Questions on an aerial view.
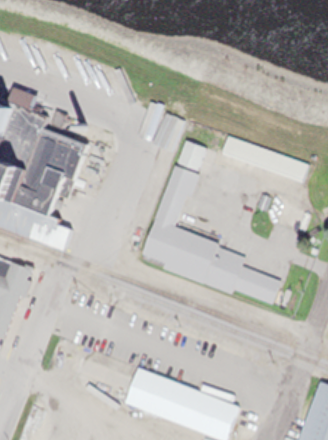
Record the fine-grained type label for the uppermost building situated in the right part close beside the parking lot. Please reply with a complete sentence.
I'd say the uppermost building situated in the right part close beside the parking lot is a warehouse.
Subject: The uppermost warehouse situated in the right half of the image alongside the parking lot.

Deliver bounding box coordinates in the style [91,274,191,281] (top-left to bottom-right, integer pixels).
[144,164,284,303]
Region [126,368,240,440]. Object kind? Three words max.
building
